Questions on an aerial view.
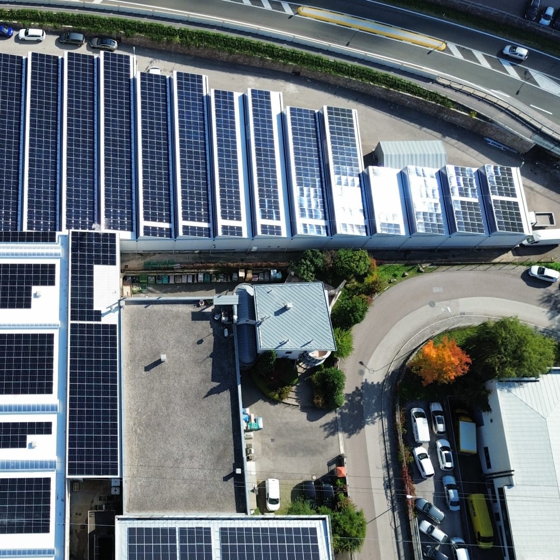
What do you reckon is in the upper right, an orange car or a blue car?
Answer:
blue car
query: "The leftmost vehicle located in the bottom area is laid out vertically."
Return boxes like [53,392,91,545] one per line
[264,474,283,516]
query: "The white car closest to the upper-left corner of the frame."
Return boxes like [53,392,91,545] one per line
[17,25,48,42]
